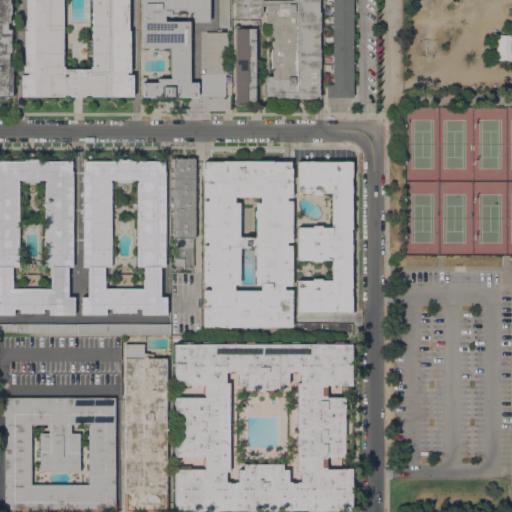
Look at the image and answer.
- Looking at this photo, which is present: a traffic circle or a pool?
pool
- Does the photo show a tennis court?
Yes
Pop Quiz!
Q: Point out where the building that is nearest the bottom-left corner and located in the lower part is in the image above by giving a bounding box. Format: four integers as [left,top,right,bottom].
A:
[5,398,116,510]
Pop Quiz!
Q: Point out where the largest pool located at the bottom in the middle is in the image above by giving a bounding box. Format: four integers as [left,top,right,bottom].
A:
[248,418,278,448]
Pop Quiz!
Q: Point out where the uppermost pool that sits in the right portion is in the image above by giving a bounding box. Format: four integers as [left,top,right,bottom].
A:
[299,200,322,220]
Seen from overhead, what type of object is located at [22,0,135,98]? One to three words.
building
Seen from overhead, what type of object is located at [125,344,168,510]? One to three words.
building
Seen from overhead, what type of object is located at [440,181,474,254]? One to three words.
tennis court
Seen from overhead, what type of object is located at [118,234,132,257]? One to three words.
swimming pool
